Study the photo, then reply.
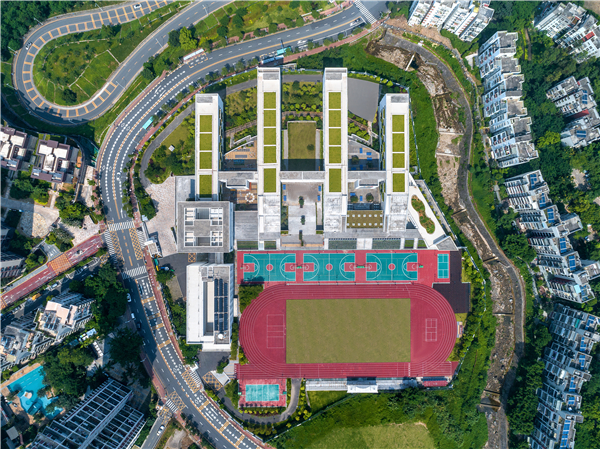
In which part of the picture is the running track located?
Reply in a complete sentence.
Look in the bottom portion of the view to spot the running track.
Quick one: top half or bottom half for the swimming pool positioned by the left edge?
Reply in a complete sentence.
You can find the swimming pool positioned by the left edge in the bottom half.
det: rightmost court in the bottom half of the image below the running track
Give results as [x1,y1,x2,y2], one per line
[237,378,287,407]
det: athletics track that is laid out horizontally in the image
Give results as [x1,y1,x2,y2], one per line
[237,284,459,378]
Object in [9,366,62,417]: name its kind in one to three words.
swimming pool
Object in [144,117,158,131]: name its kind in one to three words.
vehicle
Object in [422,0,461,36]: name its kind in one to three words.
building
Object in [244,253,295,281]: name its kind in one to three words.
basketball court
